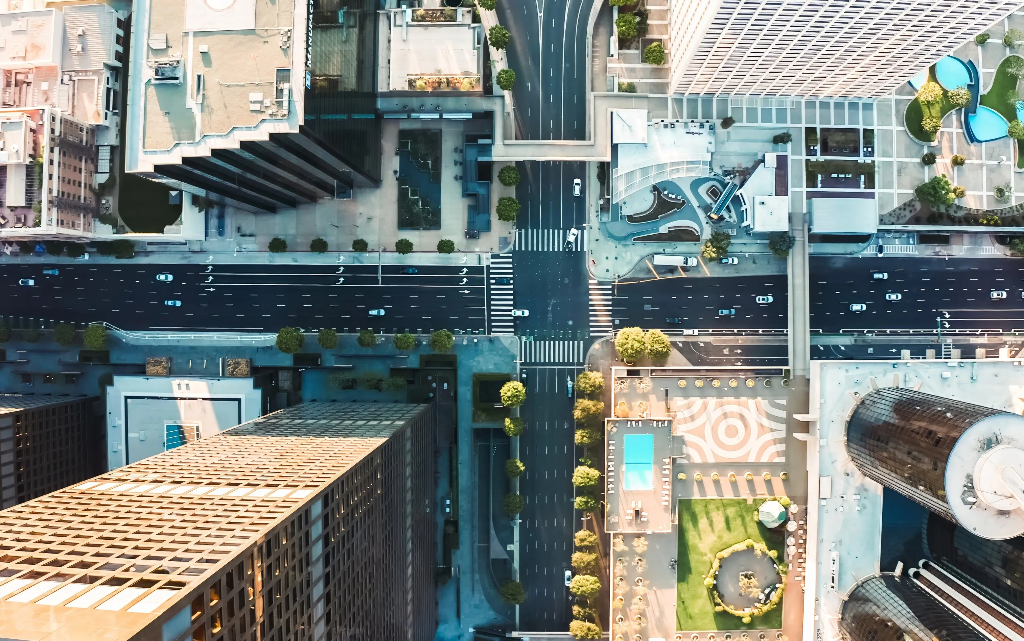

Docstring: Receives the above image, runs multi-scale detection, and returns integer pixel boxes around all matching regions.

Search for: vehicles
[574,179,580,195]
[719,308,735,316]
[401,267,417,274]
[565,230,577,249]
[758,295,774,303]
[117,254,133,260]
[496,277,511,285]
[719,257,738,265]
[850,304,866,311]
[521,367,528,383]
[653,255,698,265]
[41,268,61,276]
[876,243,885,259]
[990,291,1006,299]
[872,273,888,279]
[157,274,173,281]
[512,310,528,316]
[885,293,901,300]
[566,380,573,398]
[564,571,572,587]
[165,299,181,307]
[71,253,91,260]
[367,309,386,316]
[683,329,698,336]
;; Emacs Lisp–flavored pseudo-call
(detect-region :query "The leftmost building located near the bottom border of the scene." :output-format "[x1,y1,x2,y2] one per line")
[0,401,438,641]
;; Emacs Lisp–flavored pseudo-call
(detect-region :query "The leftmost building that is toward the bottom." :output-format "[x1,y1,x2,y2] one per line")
[0,395,104,504]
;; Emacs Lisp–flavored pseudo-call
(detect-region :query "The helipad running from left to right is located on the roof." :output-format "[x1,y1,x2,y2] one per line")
[187,0,258,31]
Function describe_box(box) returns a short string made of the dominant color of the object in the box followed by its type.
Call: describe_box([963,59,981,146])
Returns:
blue swimming pool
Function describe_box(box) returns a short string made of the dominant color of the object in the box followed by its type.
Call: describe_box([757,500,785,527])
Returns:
white gazebo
